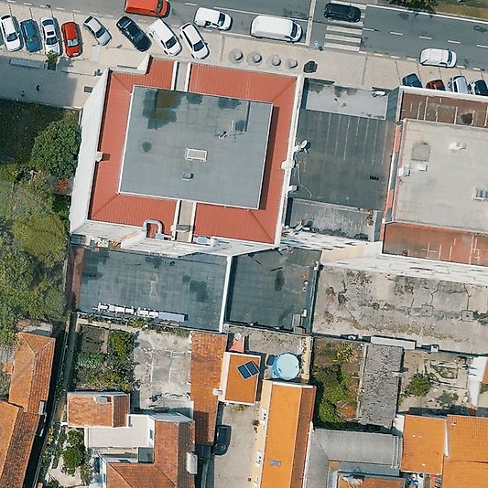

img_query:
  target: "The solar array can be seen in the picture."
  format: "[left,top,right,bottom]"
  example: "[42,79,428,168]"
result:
[236,360,259,380]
